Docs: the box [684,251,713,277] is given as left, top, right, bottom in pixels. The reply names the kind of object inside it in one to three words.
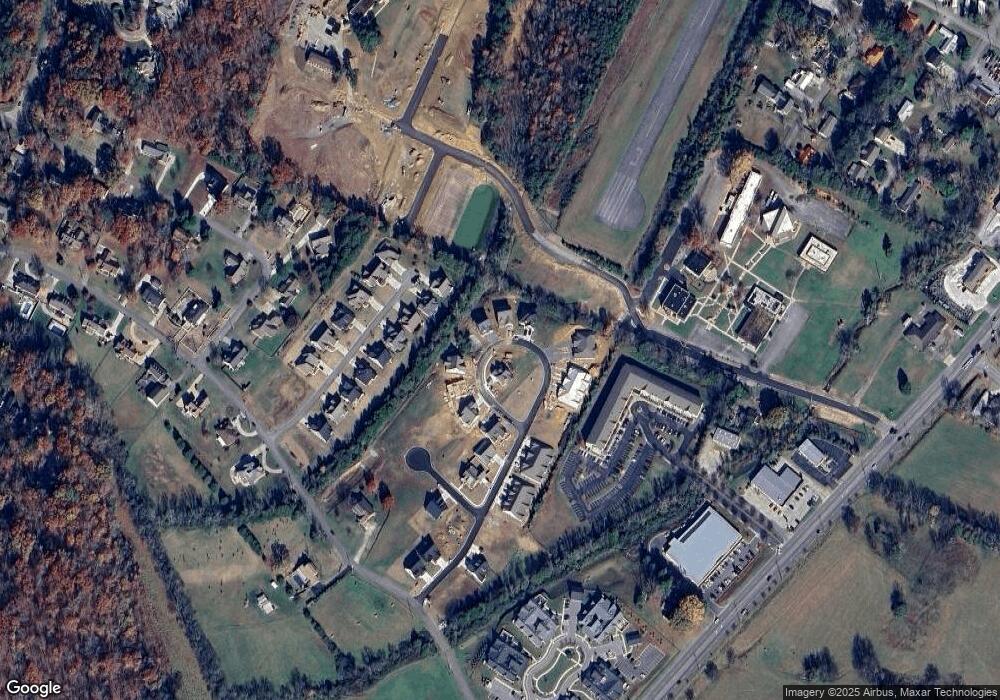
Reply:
building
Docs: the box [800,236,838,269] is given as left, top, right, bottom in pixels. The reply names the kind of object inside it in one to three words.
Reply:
building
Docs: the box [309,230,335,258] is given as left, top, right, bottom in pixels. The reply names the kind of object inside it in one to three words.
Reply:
house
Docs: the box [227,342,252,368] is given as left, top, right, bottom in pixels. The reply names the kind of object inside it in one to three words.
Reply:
house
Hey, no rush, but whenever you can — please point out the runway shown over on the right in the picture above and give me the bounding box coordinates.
[597,0,724,226]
